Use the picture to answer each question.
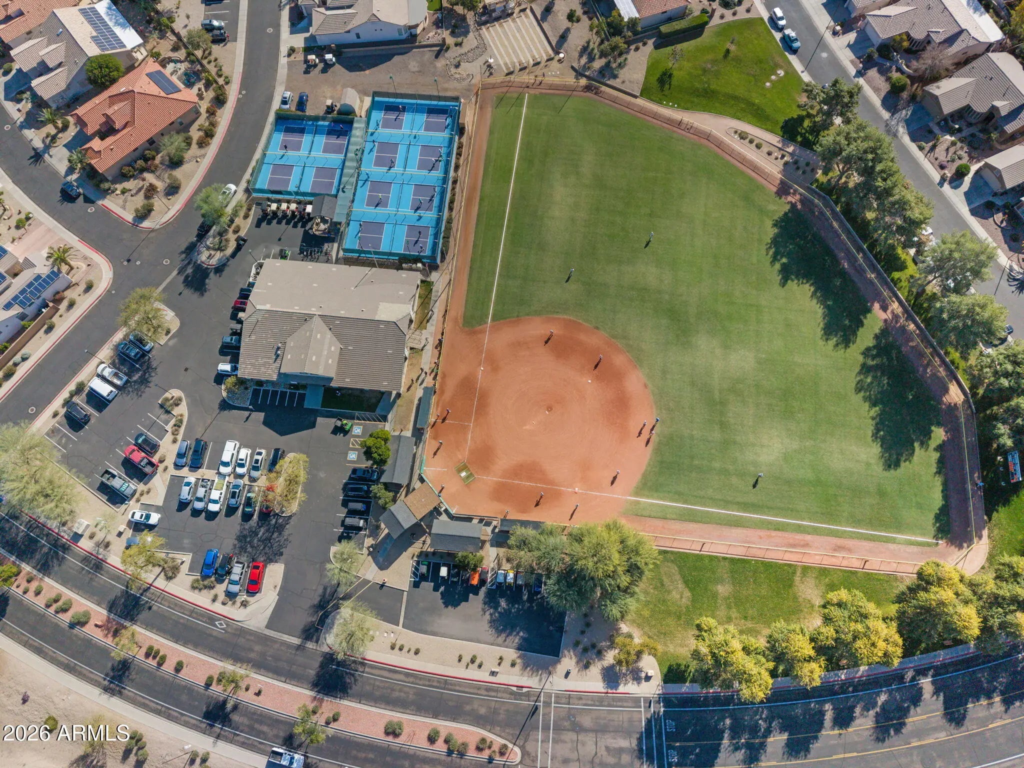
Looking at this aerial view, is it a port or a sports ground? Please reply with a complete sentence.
It's a sports ground.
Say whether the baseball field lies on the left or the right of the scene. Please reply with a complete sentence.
The baseball field appears in the right half of the scene.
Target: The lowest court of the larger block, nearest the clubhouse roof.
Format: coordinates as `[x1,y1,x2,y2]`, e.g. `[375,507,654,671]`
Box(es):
[357,219,431,254]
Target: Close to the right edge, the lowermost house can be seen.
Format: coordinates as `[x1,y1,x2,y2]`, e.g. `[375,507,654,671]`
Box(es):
[976,144,1024,196]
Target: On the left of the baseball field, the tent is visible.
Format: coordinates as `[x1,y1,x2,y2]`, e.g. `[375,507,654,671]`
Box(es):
[335,81,361,115]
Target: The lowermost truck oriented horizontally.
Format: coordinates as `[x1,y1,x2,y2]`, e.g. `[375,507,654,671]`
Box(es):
[264,746,306,768]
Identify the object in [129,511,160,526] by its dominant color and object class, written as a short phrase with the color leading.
white car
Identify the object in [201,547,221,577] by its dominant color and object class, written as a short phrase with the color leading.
blue car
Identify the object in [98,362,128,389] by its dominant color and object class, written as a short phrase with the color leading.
white truck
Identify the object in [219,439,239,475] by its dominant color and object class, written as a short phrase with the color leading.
white vehicle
